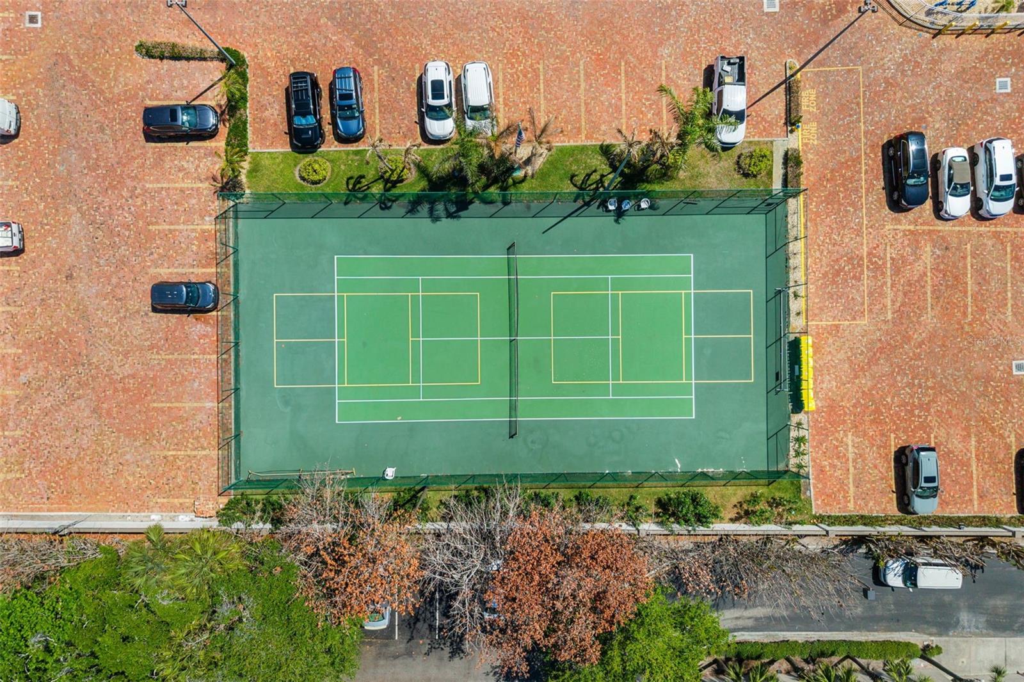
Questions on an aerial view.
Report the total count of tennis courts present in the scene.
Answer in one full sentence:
In total, there is 1 tennis court in the scene.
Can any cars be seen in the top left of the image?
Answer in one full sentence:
Yes, looking in the top left of the image, one can make out a car.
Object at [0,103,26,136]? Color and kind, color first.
white car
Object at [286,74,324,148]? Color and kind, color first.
black car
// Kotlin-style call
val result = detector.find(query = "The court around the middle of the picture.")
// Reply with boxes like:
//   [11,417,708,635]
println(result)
[233,200,791,482]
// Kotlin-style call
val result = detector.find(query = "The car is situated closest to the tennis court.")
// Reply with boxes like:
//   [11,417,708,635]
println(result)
[151,276,221,312]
